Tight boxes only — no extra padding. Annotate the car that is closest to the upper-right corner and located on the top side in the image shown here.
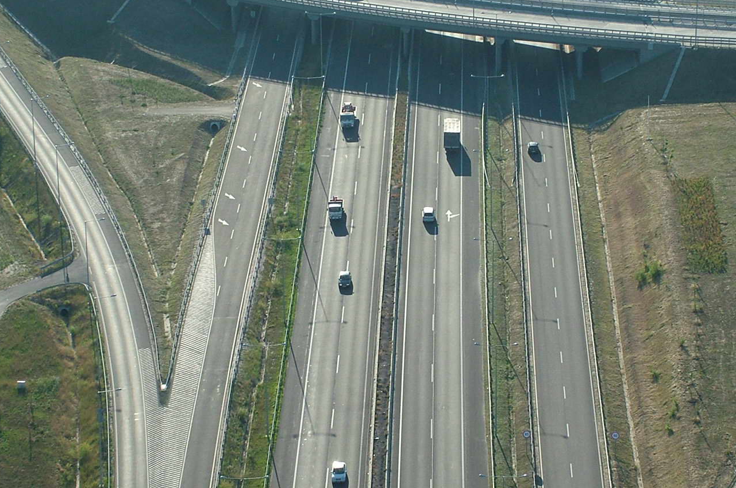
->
[527,140,539,152]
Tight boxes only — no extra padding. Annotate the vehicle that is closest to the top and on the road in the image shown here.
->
[338,97,357,127]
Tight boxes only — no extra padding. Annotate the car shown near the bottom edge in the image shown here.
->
[331,460,348,481]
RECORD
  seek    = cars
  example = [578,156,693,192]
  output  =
[422,208,435,220]
[331,460,348,481]
[527,140,539,152]
[338,268,352,285]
